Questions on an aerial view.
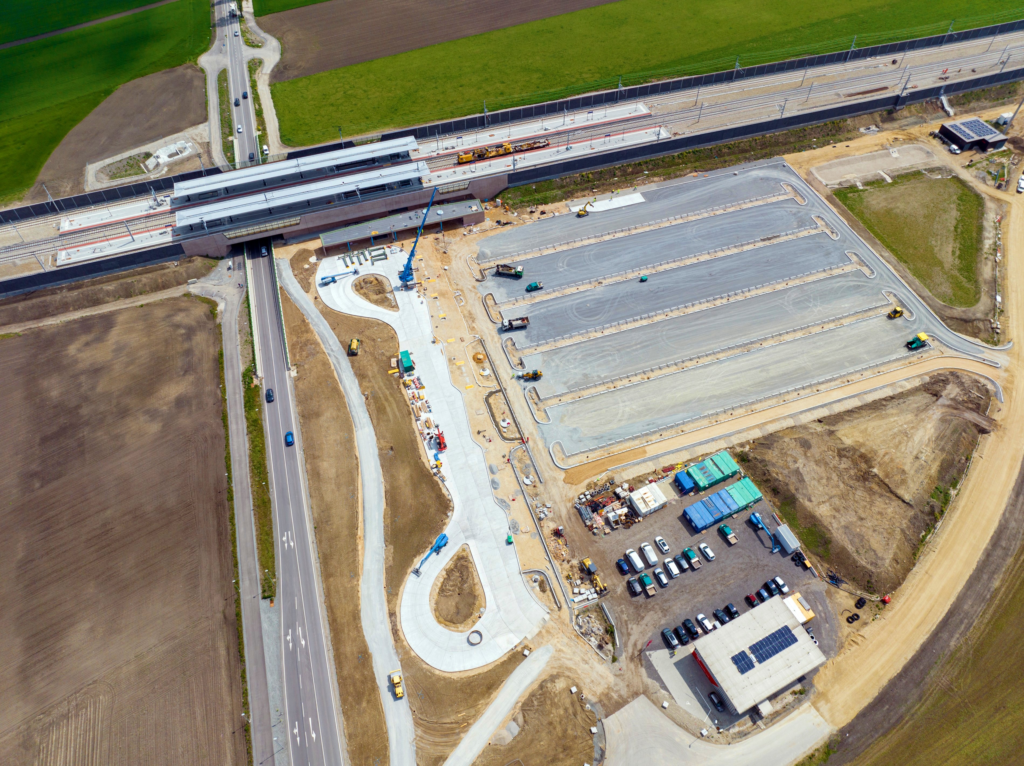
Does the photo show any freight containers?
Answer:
Yes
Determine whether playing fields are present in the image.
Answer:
Yes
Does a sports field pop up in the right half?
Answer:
No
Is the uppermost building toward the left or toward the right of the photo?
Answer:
right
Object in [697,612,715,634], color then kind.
white car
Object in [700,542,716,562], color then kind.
white car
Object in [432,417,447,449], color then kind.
red work vehicle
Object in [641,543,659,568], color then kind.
white vehicle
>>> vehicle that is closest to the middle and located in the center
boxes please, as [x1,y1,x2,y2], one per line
[520,369,540,381]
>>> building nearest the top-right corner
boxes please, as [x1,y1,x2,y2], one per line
[939,117,1008,150]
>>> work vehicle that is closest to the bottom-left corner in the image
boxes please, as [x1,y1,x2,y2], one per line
[388,665,406,700]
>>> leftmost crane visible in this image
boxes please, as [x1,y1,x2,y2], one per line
[395,186,443,292]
